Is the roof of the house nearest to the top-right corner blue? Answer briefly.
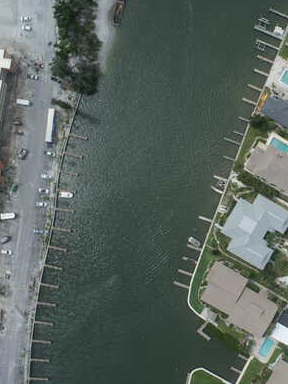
No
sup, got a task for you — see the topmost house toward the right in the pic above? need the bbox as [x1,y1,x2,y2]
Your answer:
[263,96,288,129]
